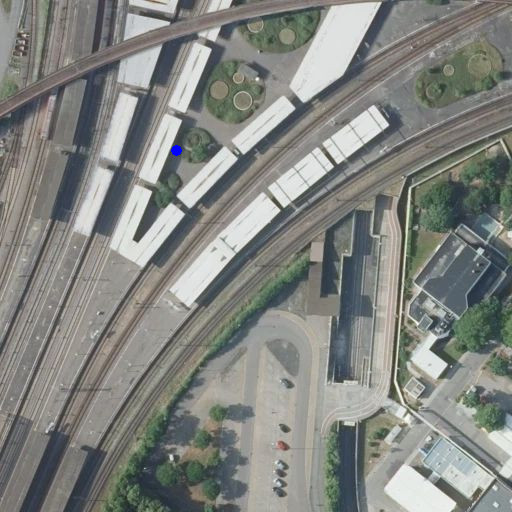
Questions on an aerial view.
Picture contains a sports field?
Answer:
No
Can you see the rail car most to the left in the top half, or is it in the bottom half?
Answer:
top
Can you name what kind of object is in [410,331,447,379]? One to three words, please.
building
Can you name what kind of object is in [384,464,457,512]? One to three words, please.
building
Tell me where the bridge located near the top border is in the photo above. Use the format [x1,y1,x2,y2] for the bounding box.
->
[0,0,360,116]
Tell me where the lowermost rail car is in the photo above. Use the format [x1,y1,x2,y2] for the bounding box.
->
[42,84,62,140]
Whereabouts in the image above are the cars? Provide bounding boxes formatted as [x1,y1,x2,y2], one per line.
[16,45,28,51]
[276,460,288,468]
[280,378,292,387]
[14,51,26,57]
[275,441,286,450]
[274,488,285,496]
[274,468,286,478]
[274,478,286,487]
[16,39,28,45]
[18,32,30,38]
[279,424,290,432]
